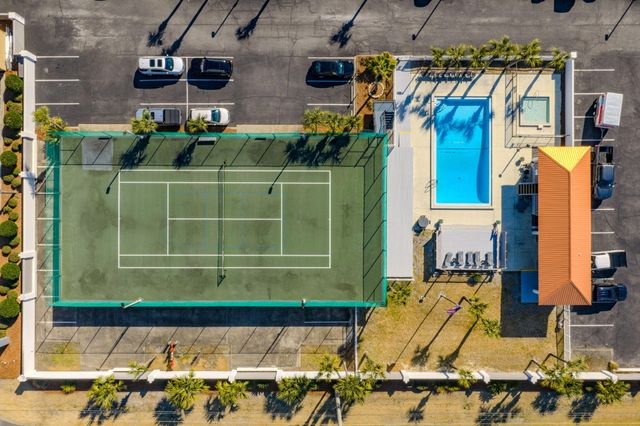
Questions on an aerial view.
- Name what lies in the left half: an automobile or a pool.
automobile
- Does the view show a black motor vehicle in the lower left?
No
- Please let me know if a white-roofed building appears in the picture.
No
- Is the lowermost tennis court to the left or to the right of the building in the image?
on the left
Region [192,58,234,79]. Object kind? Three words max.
car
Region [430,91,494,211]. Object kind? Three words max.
swimming pool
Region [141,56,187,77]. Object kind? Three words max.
car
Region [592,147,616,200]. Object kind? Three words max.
truck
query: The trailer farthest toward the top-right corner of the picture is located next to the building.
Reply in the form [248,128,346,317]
[588,93,623,142]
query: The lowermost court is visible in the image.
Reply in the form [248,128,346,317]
[59,137,388,302]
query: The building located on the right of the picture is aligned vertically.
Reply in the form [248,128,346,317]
[531,146,592,305]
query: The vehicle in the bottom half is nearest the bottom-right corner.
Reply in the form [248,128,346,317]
[592,284,626,304]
